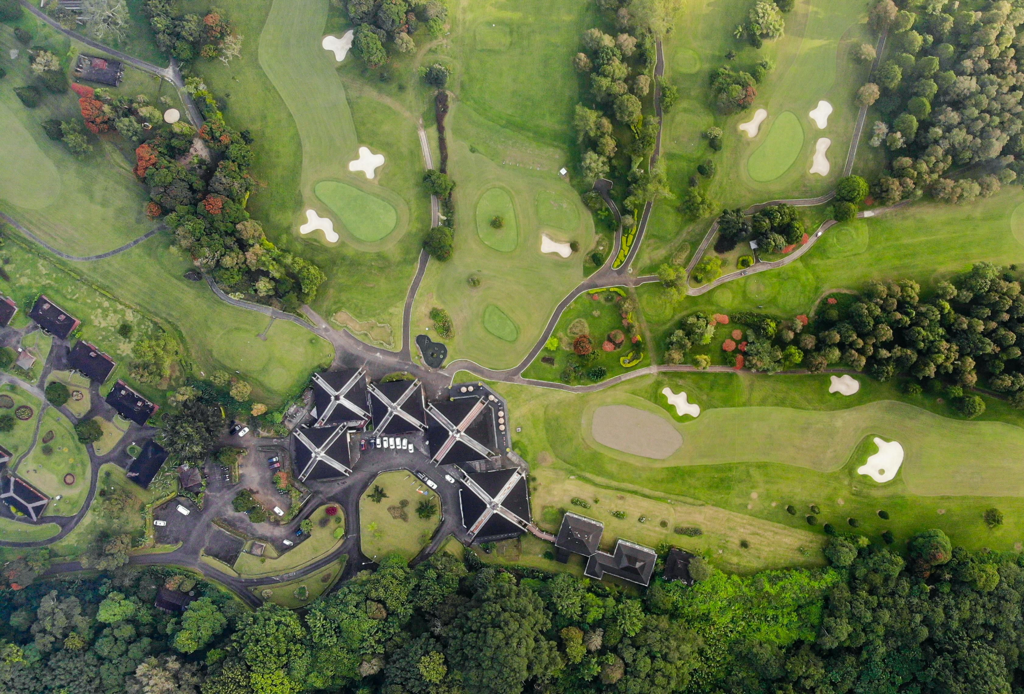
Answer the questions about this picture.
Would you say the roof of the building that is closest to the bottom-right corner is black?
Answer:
Yes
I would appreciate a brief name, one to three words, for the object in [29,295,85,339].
house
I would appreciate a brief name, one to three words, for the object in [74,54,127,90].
building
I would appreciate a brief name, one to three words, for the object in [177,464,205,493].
shed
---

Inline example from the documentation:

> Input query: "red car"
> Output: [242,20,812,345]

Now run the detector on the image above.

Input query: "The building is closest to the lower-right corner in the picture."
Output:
[663,548,696,585]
